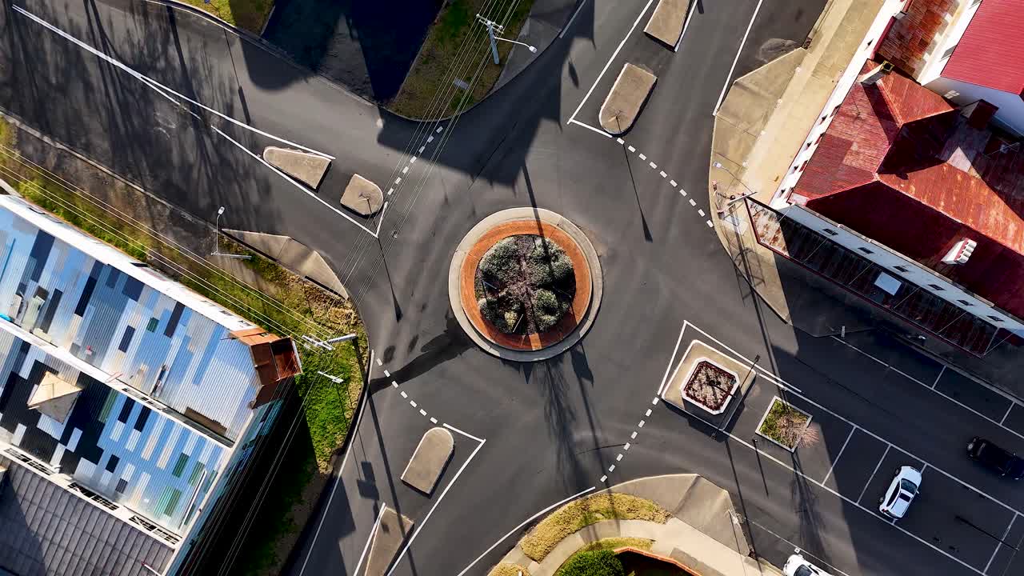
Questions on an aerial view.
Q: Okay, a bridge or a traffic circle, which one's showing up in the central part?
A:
traffic circle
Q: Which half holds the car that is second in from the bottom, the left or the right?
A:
right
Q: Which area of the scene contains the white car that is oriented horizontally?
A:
bottom right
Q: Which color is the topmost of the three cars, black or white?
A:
black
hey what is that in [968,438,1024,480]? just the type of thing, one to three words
car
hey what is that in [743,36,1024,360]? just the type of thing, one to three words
building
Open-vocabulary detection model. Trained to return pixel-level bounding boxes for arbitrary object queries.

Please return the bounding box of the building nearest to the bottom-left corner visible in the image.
[0,181,303,576]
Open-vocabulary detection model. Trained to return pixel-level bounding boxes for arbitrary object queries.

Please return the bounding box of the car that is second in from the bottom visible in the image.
[878,464,920,518]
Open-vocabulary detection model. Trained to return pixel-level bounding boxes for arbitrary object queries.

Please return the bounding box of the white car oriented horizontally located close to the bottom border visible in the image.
[784,556,832,576]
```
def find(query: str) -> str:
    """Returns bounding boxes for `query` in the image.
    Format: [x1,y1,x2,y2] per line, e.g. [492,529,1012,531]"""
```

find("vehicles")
[784,556,832,576]
[968,438,1024,480]
[878,464,920,518]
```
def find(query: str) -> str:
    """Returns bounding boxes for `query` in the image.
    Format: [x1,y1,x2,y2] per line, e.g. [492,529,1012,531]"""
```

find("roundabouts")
[448,207,603,362]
